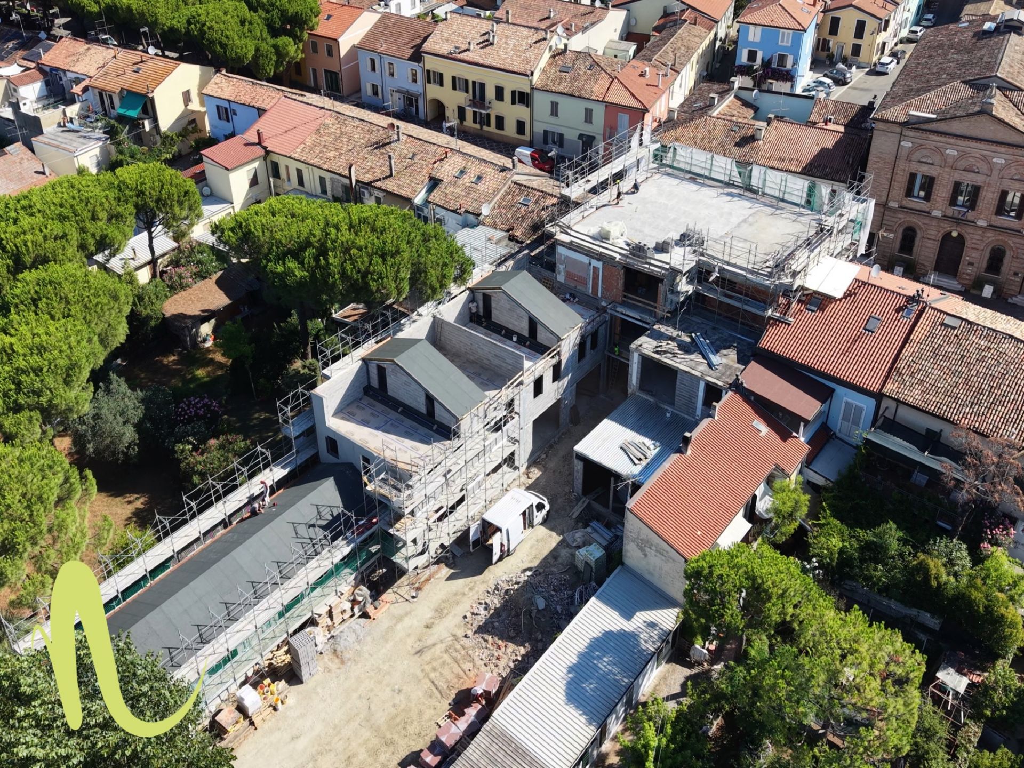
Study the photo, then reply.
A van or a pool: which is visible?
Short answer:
van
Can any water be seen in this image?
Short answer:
No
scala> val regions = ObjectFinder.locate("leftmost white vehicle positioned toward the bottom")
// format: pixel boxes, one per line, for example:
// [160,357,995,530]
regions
[461,479,549,562]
